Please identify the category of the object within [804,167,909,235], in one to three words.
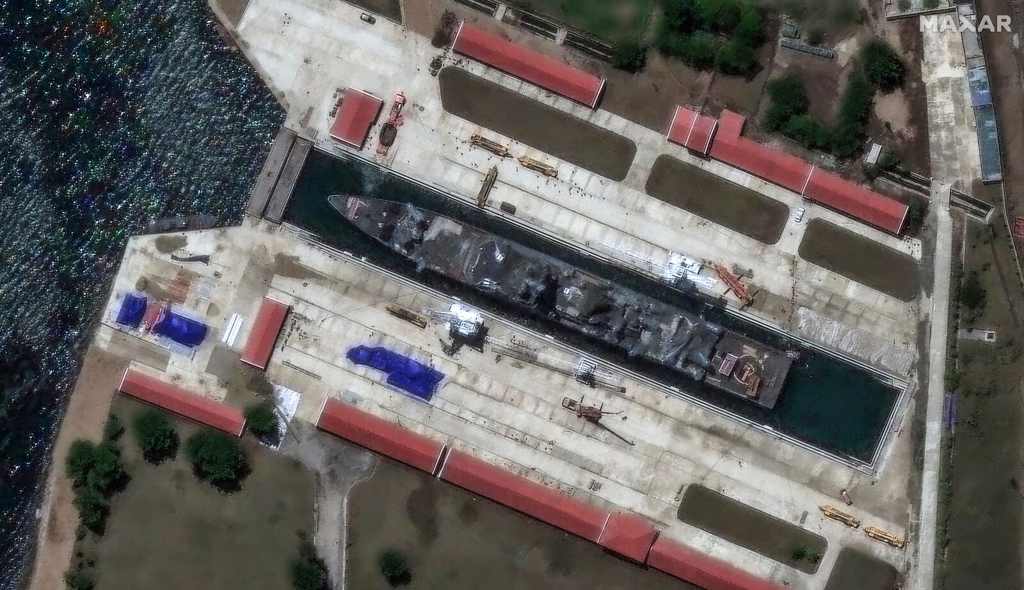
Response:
building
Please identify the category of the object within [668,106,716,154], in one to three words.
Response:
building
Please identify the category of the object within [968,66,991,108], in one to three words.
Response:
shed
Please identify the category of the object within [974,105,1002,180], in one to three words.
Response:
shed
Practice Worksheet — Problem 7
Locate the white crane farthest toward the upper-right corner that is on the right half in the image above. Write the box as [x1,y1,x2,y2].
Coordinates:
[663,244,718,287]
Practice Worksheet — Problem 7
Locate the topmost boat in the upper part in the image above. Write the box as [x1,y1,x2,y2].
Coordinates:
[379,122,396,144]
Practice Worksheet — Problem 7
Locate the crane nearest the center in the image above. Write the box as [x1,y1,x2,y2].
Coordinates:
[426,300,487,340]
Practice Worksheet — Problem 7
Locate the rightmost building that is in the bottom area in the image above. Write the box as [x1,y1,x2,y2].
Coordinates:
[648,533,794,590]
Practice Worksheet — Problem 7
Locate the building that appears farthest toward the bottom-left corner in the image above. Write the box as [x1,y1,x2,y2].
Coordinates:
[120,368,245,436]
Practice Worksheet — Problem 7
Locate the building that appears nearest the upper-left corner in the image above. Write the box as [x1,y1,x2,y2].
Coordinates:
[330,87,383,147]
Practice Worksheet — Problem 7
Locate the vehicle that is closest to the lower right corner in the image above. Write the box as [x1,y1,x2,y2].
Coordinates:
[840,489,852,505]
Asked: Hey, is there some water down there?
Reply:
Yes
